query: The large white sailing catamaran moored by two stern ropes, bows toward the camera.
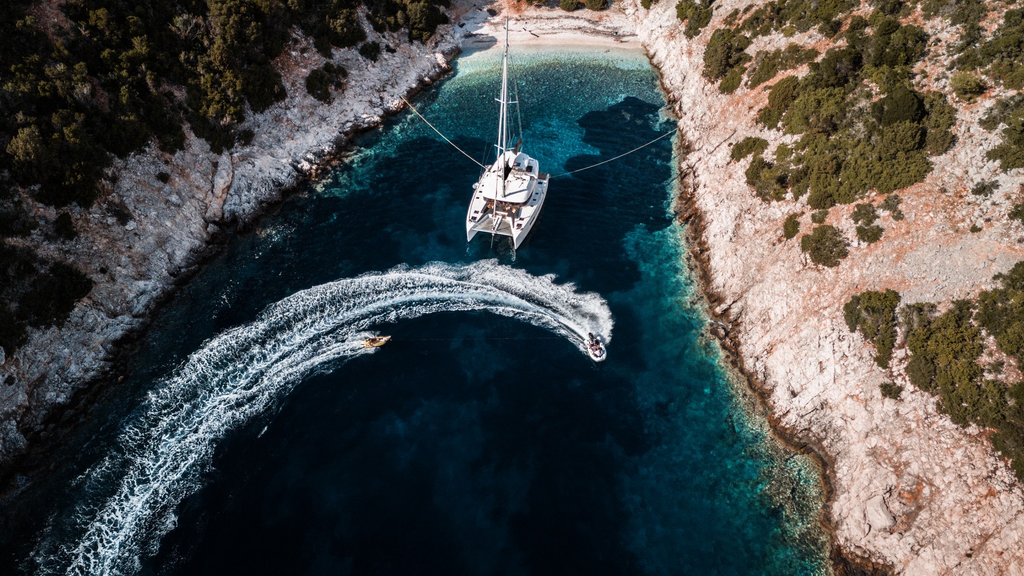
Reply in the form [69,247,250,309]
[468,17,550,287]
